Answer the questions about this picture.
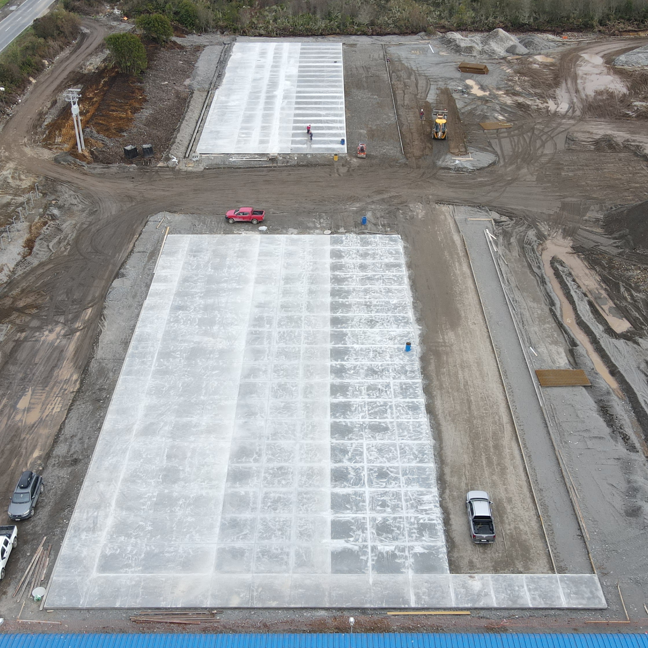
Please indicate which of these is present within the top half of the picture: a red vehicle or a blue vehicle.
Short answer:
red vehicle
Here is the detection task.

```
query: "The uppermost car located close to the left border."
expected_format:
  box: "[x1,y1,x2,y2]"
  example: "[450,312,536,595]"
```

[6,473,43,523]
